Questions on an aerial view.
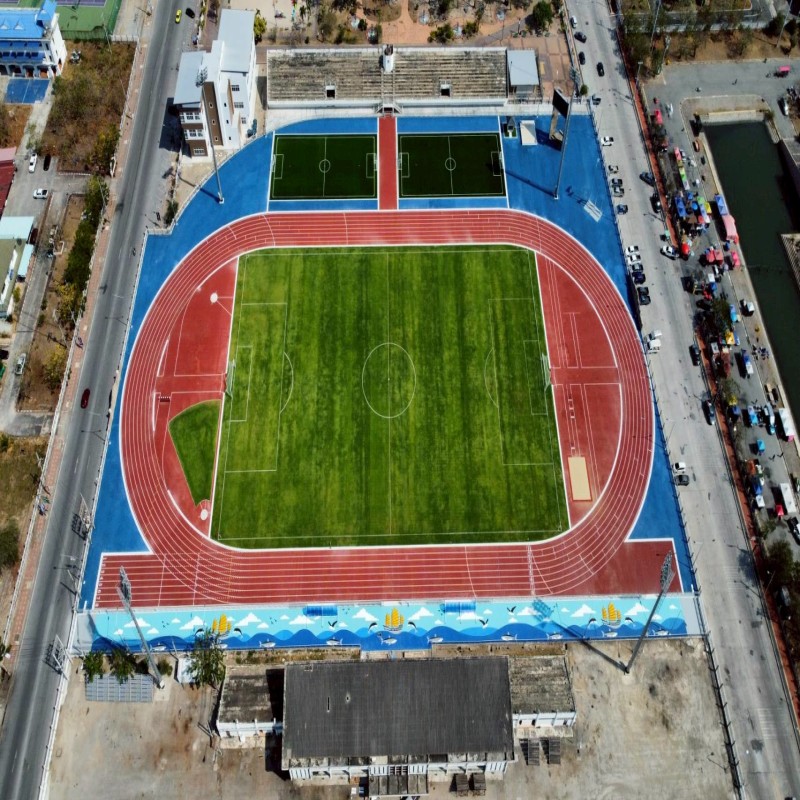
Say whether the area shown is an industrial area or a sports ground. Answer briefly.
sports ground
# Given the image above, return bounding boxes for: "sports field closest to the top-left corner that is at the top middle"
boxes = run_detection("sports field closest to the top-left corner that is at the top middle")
[270,134,378,198]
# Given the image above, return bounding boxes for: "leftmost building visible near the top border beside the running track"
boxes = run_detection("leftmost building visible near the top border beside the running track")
[173,7,262,156]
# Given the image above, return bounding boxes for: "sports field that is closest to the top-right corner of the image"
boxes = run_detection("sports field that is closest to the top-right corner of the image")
[398,133,506,198]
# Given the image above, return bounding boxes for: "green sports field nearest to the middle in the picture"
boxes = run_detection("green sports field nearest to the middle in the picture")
[207,242,571,549]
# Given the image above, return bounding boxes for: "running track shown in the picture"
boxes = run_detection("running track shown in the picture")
[92,118,684,607]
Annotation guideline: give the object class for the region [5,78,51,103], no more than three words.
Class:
sports court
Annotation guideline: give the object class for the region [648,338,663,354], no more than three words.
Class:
car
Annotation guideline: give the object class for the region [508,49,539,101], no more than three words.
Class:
building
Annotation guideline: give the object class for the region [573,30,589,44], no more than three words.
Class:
car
